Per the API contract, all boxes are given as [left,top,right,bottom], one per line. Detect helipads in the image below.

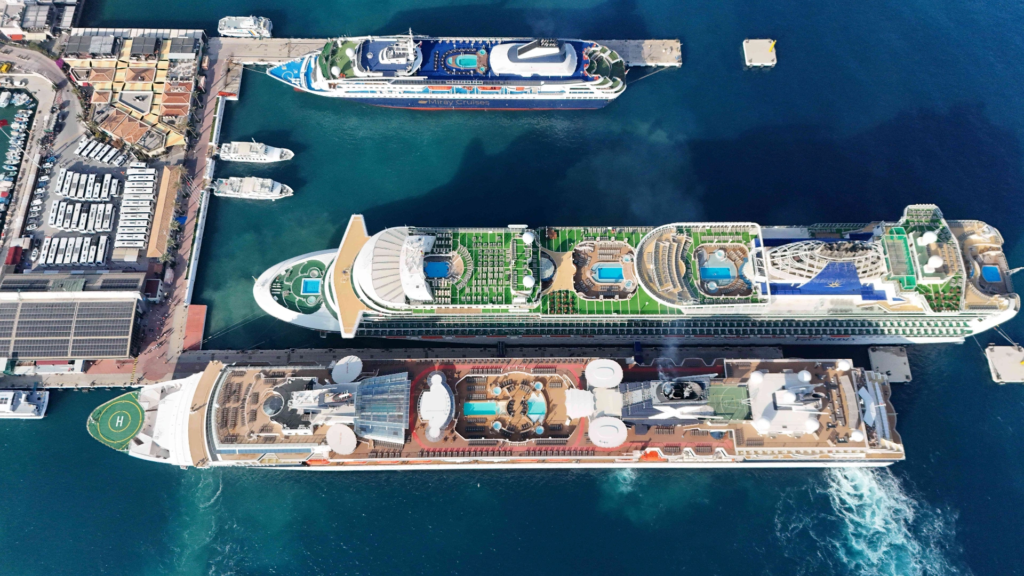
[87,392,148,453]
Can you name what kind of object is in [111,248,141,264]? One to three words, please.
shed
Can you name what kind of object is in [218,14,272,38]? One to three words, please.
boat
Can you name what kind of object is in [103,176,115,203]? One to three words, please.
vehicle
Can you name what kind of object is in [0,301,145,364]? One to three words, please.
building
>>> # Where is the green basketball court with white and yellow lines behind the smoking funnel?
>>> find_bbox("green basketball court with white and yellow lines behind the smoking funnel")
[710,384,750,420]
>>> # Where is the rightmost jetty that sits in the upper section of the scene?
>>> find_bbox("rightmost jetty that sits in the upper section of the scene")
[231,38,684,68]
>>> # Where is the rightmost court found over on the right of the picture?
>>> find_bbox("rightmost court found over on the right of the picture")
[878,227,916,291]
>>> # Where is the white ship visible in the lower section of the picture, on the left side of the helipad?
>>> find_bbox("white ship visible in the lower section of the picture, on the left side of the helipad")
[0,382,51,420]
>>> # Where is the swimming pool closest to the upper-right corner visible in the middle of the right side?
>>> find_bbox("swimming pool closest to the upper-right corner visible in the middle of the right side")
[981,264,1003,284]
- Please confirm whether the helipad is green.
Yes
